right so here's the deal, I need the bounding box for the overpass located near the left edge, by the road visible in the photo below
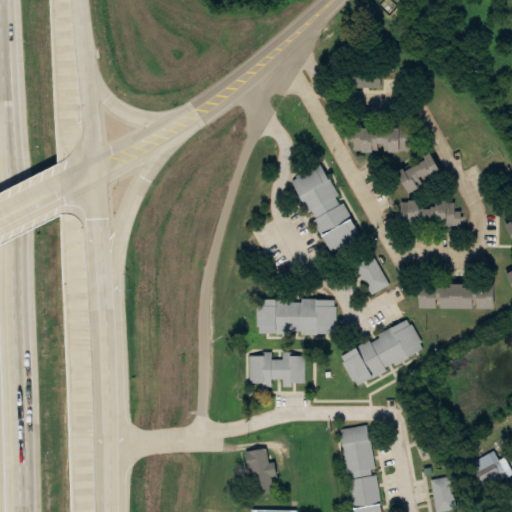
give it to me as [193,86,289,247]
[0,163,60,245]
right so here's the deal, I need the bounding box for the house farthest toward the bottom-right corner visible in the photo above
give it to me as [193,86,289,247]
[480,452,512,482]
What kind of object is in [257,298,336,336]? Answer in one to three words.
building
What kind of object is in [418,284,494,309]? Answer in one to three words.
building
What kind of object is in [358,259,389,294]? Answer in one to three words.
house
